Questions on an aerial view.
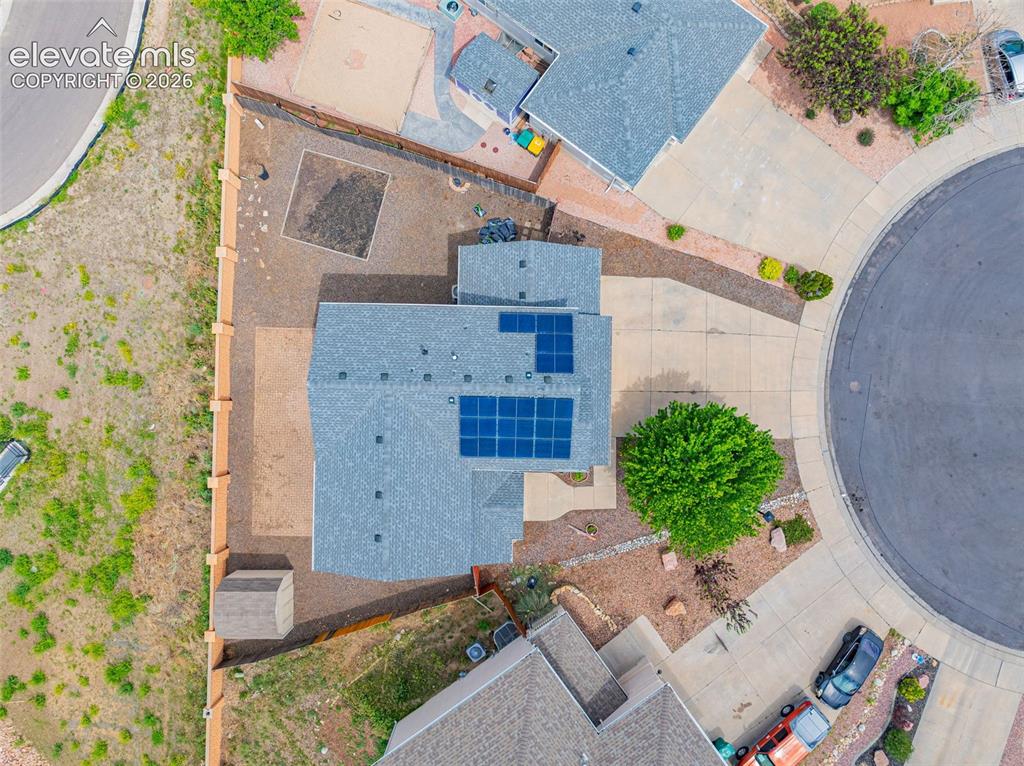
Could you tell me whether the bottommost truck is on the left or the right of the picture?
right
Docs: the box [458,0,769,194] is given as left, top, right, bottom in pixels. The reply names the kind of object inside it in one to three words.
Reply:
house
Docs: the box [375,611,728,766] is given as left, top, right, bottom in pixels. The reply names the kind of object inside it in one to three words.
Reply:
house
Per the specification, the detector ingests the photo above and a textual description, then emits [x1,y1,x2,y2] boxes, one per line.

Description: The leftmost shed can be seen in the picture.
[214,571,293,639]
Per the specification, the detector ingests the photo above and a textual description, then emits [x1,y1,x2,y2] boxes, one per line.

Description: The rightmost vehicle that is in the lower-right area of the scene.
[817,631,885,710]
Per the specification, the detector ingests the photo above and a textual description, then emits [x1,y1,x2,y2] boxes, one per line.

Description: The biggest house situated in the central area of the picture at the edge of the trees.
[307,240,612,580]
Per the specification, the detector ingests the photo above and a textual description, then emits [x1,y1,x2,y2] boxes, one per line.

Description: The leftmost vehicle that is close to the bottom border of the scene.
[733,698,832,766]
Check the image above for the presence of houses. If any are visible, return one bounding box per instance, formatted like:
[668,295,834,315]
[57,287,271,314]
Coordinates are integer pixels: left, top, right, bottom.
[307,240,612,580]
[375,611,728,766]
[458,0,769,194]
